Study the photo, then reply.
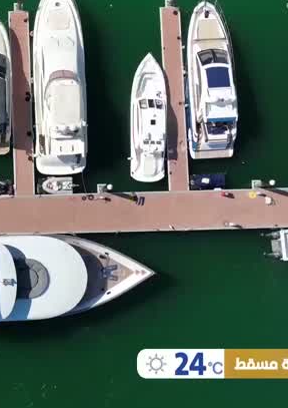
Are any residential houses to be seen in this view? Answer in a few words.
No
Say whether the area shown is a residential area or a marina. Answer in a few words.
marina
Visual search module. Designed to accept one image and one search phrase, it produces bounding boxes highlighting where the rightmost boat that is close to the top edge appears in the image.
[173,0,242,162]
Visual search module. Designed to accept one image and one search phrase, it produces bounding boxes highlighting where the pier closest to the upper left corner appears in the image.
[8,10,35,194]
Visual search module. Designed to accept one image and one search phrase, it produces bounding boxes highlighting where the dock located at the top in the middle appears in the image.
[159,8,189,190]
